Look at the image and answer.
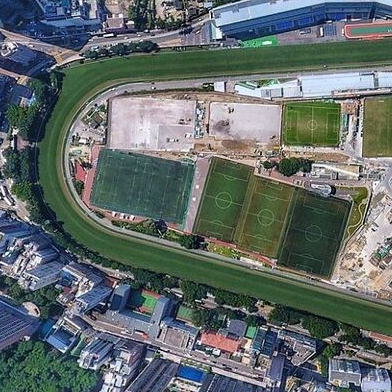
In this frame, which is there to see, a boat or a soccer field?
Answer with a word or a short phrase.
soccer field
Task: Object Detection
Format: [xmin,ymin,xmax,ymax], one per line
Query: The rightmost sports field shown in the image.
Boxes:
[362,95,392,158]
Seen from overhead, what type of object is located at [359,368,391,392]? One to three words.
building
